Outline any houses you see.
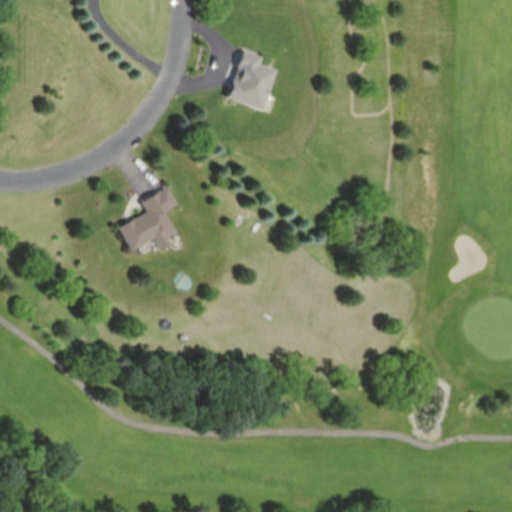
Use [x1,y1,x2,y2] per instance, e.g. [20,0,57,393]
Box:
[228,48,278,114]
[120,186,180,251]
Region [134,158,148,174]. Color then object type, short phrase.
white vehicle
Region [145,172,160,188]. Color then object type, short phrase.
white vehicle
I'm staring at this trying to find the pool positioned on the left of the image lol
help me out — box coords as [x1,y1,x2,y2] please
[174,272,192,291]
